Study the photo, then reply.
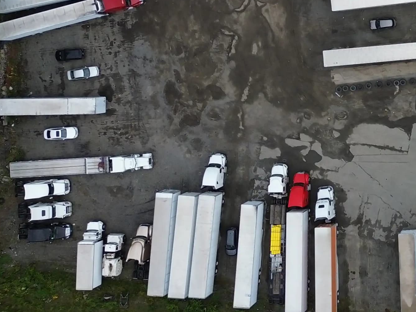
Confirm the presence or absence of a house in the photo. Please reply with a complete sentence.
No, the frame has no house in it.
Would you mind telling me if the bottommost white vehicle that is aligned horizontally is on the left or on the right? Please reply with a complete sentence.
You can find the bottommost white vehicle that is aligned horizontally on the left side of the picture.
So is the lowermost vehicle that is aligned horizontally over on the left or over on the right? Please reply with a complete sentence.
The lowermost vehicle that is aligned horizontally is on the left side of the image.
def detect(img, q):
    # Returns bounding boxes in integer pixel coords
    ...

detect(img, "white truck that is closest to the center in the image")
[205,153,230,200]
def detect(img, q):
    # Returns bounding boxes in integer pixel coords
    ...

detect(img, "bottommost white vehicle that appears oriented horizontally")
[17,200,74,221]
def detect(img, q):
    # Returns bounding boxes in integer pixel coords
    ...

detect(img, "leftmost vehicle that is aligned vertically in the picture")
[77,220,106,290]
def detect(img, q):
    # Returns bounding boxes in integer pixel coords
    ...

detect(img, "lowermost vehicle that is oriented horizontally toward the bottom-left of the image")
[15,224,74,243]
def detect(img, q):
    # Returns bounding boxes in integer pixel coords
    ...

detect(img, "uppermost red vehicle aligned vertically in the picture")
[289,171,313,219]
